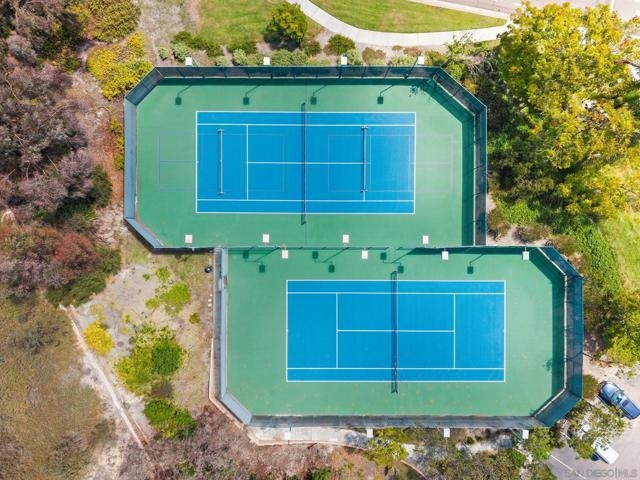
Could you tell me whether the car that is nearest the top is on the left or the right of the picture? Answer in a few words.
right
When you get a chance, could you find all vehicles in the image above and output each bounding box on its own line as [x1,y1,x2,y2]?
[574,424,621,466]
[598,378,640,420]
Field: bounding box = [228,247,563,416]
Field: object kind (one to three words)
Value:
tennis court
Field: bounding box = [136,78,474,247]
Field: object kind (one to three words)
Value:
tennis court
